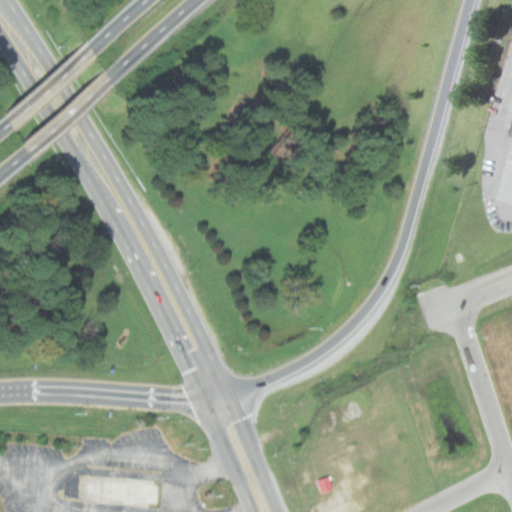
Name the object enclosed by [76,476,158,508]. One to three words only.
building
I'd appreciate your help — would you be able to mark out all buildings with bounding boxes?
[316,477,332,494]
[76,476,158,508]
